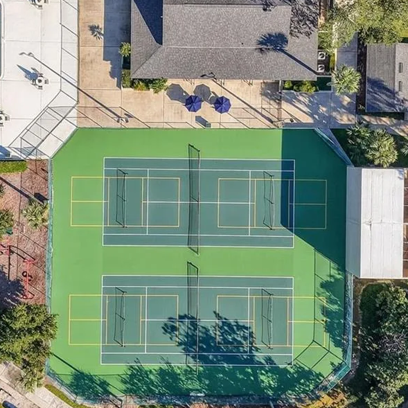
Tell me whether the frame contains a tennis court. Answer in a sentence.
Yes, the picture does show a tennis court.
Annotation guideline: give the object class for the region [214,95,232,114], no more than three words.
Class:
umbrella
